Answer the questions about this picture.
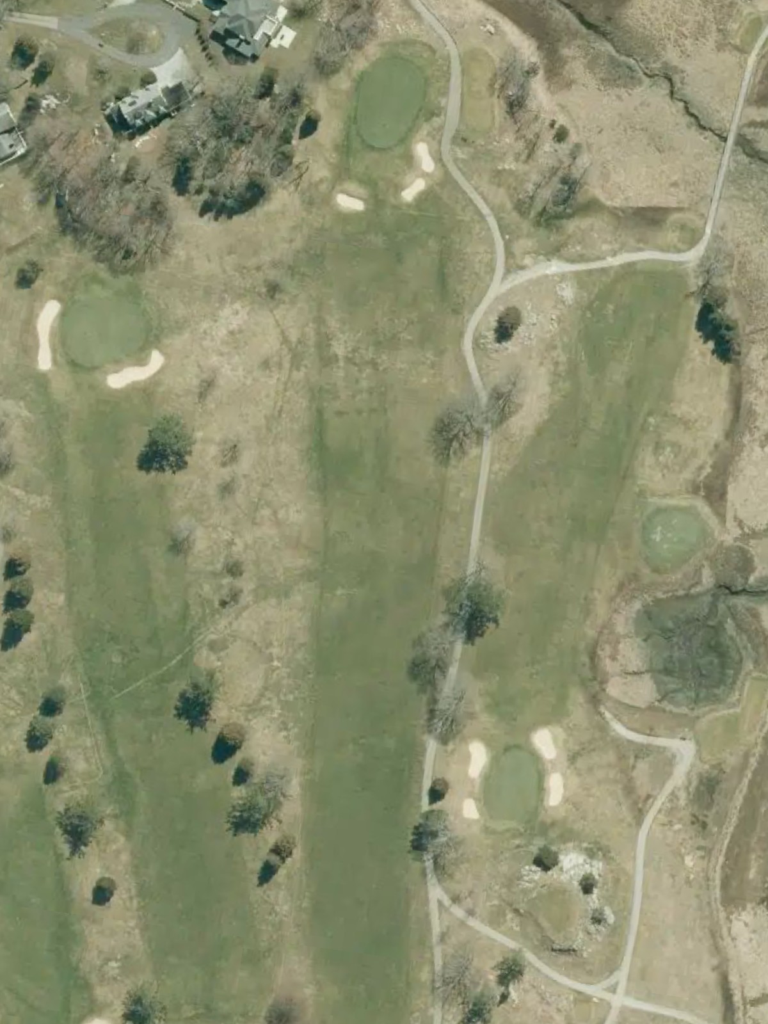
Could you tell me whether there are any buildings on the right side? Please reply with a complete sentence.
No, no building can be made out on the right side.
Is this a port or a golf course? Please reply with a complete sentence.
The picture captures a golf course.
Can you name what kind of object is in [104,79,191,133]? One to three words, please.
house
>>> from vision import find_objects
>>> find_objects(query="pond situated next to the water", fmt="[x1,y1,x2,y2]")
[636,591,742,703]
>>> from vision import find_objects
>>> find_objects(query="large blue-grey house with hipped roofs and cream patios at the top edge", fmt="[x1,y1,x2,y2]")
[209,0,296,65]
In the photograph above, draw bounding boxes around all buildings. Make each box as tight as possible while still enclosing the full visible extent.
[104,79,191,133]
[209,0,296,65]
[0,100,26,163]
